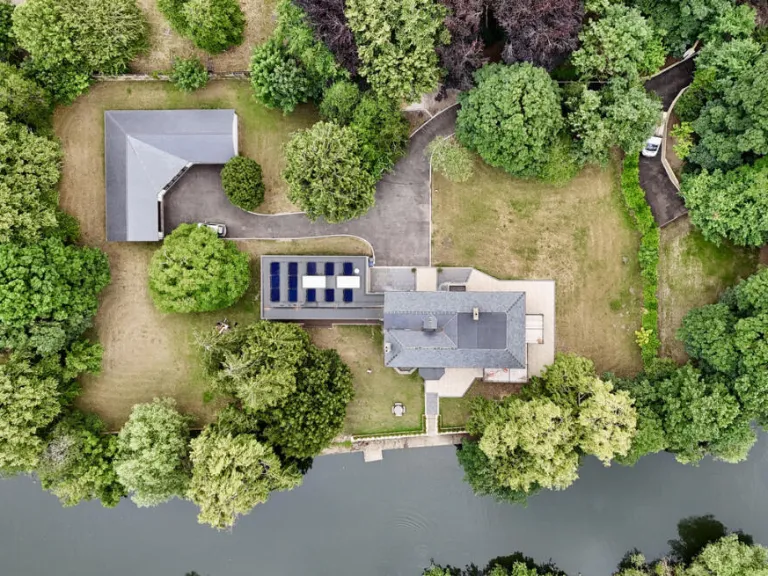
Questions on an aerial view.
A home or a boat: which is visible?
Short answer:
home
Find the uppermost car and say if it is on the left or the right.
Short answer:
right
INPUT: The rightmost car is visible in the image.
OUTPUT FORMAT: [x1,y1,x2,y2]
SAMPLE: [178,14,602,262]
[640,133,663,161]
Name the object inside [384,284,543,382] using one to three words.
house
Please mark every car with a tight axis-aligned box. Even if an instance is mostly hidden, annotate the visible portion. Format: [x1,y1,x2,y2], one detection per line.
[640,133,663,161]
[198,221,227,236]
